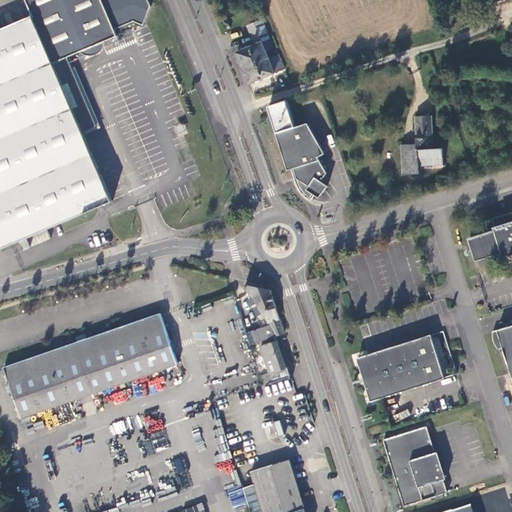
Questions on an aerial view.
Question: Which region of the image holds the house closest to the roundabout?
center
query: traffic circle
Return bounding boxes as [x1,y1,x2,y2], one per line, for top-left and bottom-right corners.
[245,206,313,274]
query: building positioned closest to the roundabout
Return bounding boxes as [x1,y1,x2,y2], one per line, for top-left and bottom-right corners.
[246,268,273,291]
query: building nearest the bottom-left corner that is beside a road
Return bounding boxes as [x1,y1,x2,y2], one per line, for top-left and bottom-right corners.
[5,313,178,418]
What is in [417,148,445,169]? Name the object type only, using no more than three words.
barn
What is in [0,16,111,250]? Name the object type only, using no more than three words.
warehouse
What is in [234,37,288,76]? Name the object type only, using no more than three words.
house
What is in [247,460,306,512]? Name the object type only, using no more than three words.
building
